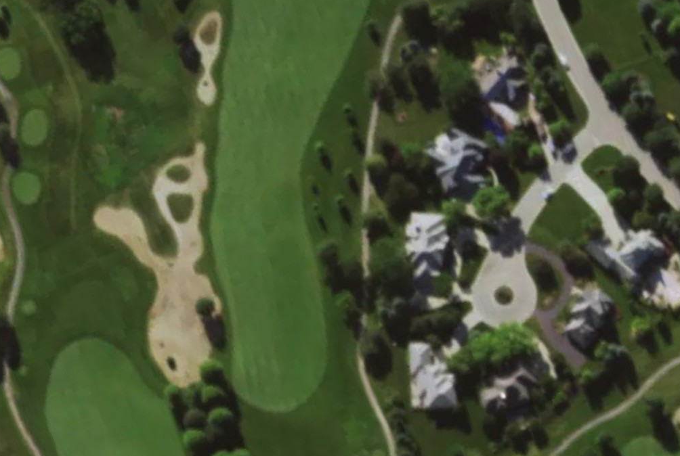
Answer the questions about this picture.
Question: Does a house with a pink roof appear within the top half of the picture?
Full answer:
No, no house with a pink roof is visible within the top half of the picture.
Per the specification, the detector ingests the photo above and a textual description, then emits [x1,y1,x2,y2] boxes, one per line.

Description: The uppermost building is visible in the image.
[470,50,533,117]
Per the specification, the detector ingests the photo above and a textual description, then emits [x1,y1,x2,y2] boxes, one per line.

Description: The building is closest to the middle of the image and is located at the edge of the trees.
[408,208,454,295]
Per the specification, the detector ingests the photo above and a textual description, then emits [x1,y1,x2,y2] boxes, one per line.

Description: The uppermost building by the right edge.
[586,223,676,289]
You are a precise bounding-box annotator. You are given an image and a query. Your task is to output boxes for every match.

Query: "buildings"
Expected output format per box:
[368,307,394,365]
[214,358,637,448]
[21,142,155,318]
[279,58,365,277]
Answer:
[408,208,454,295]
[559,282,619,351]
[428,122,493,197]
[586,223,676,289]
[405,340,459,417]
[470,50,533,117]
[474,362,549,423]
